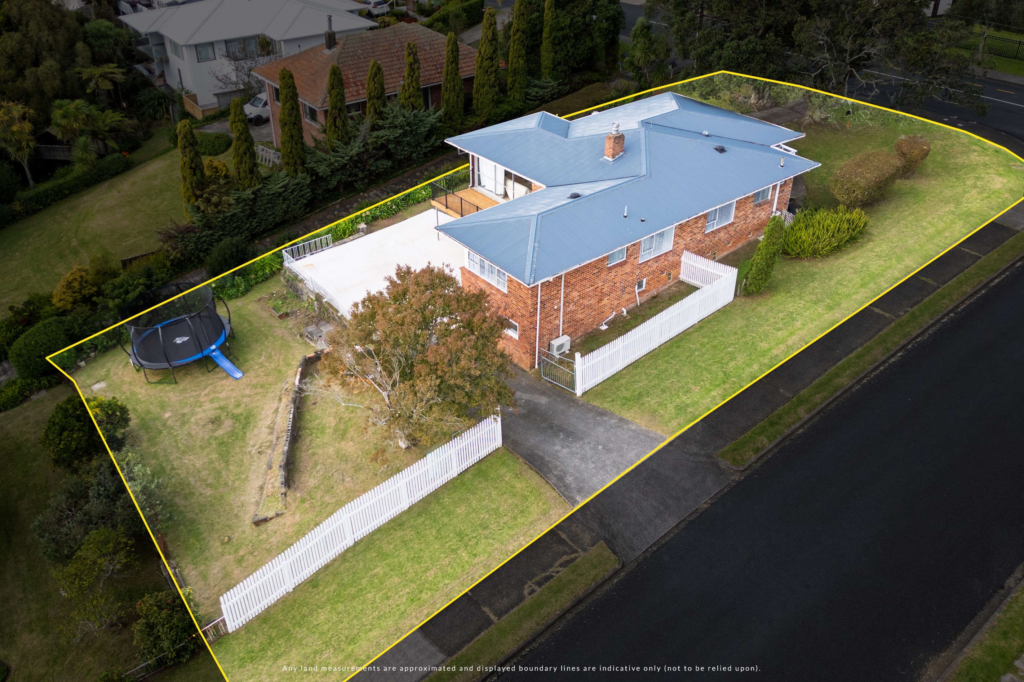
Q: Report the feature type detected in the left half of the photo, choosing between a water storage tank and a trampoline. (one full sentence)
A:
Looking in the left half of the photo, you will find a trampoline.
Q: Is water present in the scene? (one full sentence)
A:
No, there is no water in the image.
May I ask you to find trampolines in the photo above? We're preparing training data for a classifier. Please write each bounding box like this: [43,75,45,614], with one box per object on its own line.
[121,281,247,387]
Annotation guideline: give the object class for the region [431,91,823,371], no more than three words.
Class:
house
